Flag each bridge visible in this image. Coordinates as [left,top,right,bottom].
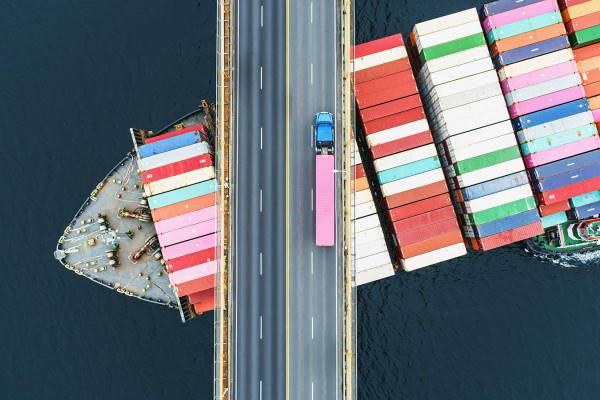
[215,0,356,400]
